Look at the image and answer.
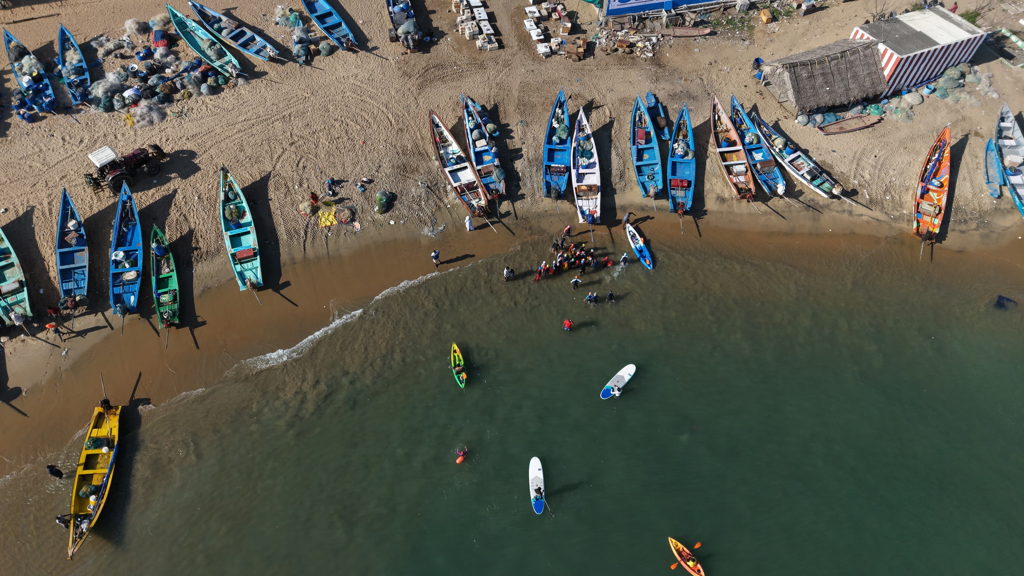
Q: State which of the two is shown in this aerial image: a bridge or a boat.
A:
boat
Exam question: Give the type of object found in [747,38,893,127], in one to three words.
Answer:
shed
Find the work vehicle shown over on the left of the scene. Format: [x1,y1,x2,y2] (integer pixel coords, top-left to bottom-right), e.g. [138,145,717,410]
[84,144,165,197]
